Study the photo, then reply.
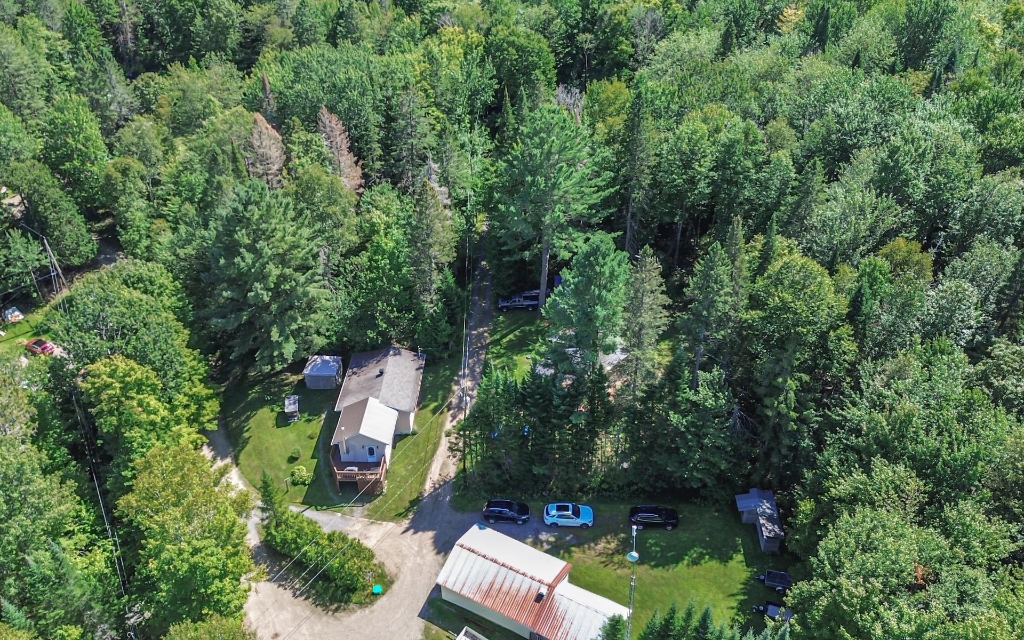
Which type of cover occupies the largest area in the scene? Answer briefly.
trees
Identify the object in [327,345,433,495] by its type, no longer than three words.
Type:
house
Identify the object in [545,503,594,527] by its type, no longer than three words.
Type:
car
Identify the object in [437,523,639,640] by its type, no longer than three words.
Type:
building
